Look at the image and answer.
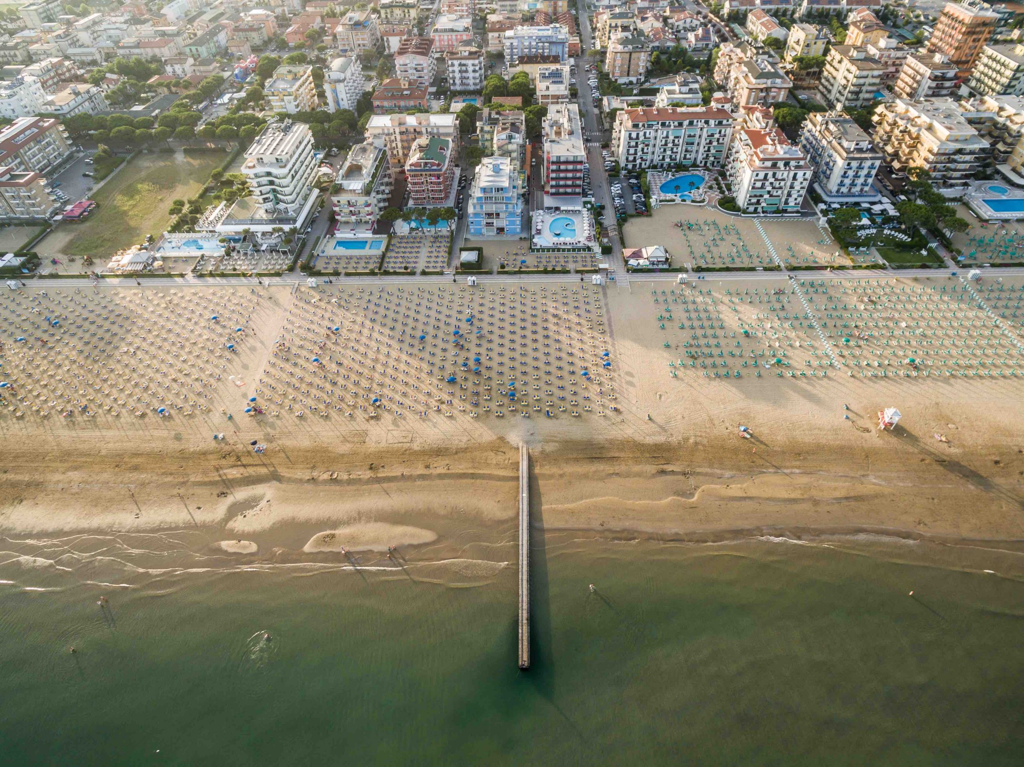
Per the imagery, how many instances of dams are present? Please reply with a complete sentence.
The picture shows no dams.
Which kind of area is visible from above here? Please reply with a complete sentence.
The area seen from above is a beach.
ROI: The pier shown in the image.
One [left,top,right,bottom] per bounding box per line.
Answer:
[517,440,531,670]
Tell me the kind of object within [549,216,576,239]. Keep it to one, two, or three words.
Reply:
swimming pool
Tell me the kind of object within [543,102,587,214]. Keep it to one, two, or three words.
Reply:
building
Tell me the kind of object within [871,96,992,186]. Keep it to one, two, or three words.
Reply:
building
